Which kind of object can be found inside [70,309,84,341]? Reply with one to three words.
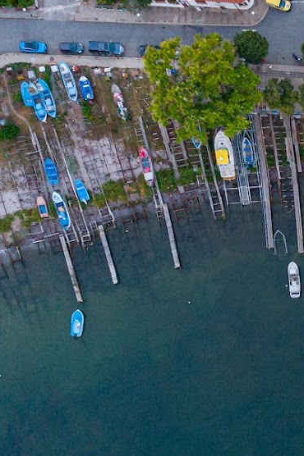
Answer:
boat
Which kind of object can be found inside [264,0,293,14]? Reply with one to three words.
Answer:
car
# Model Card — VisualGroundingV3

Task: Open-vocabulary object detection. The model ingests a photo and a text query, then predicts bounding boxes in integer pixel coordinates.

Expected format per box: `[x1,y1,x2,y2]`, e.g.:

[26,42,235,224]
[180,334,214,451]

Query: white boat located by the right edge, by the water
[286,261,299,299]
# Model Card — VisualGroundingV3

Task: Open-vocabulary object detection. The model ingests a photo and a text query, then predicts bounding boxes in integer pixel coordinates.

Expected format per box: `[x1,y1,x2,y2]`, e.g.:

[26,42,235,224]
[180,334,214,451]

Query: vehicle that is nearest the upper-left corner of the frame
[20,39,50,55]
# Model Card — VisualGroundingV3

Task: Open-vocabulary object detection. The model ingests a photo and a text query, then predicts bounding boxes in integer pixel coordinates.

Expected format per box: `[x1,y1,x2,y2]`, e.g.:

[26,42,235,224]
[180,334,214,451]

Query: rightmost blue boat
[242,137,255,169]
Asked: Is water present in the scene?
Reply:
Yes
